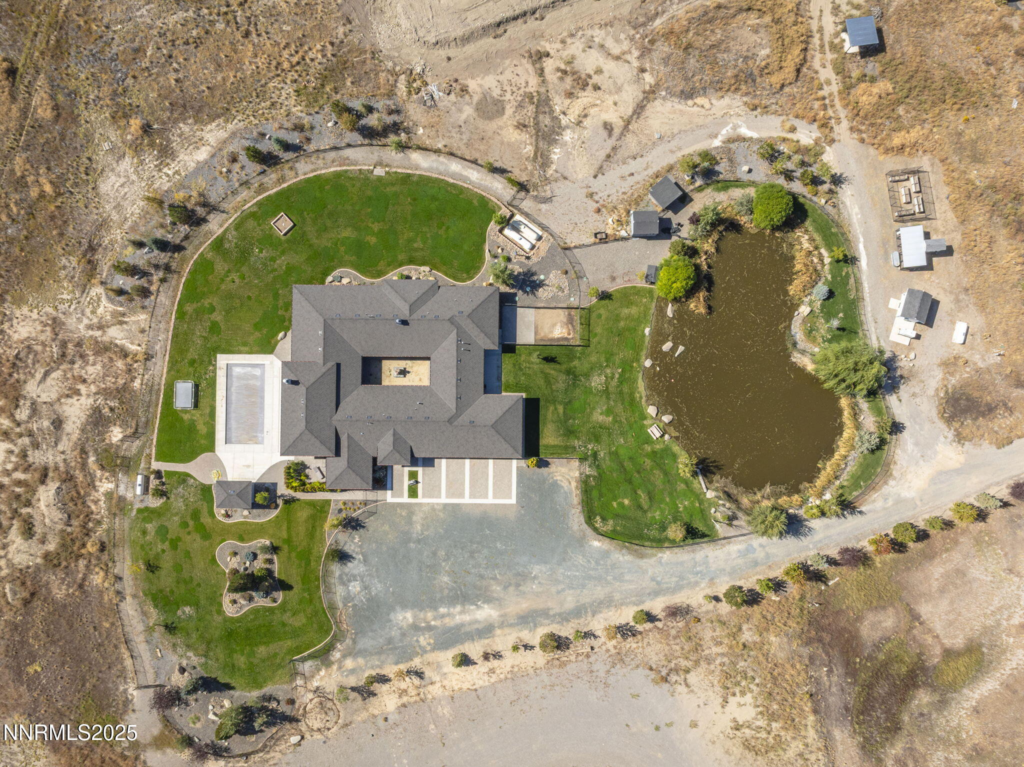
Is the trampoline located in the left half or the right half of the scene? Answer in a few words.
left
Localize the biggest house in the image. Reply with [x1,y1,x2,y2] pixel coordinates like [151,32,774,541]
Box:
[280,279,525,490]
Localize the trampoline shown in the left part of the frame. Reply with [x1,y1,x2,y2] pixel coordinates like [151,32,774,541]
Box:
[174,381,197,409]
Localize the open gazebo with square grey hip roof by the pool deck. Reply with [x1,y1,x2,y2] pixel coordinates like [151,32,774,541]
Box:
[214,479,257,509]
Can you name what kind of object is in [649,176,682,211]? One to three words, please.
shed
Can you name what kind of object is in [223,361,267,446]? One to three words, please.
swimming pool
